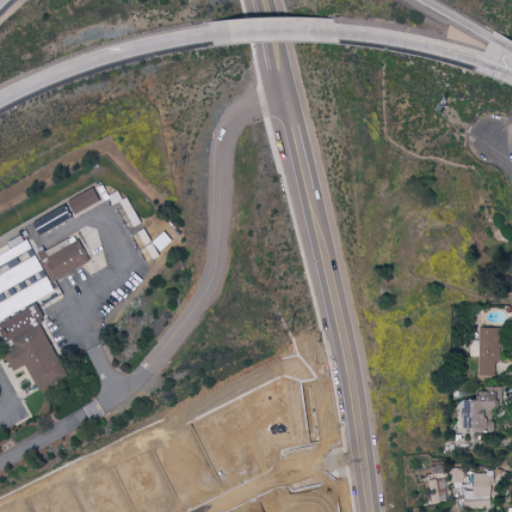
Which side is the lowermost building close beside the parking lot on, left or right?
left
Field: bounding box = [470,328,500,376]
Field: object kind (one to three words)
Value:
house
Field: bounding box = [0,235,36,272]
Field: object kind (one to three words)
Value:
building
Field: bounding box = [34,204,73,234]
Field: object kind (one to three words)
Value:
shed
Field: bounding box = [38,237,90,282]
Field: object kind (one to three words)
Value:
building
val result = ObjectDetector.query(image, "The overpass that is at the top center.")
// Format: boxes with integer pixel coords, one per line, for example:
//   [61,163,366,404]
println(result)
[214,17,336,48]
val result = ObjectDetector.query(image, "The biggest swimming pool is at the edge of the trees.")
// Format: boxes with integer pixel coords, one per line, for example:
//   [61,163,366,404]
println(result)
[487,310,507,324]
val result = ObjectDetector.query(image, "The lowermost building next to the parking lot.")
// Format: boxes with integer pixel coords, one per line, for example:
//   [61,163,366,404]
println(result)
[0,302,66,389]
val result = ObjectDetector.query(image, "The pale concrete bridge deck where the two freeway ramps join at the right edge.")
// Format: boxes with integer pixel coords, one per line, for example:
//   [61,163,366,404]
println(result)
[476,32,512,86]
